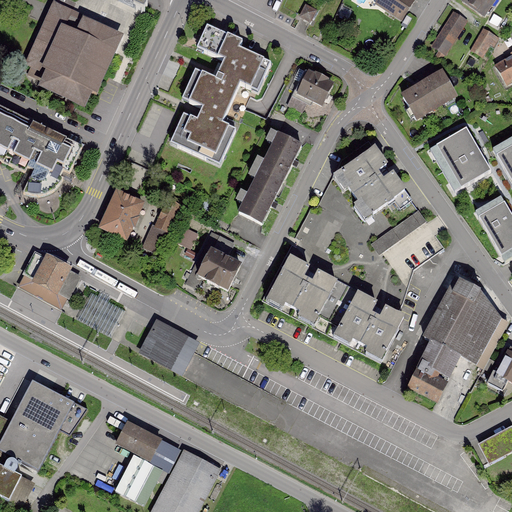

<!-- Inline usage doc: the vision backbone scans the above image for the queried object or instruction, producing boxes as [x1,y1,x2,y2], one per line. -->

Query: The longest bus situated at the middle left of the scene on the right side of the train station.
[76,260,138,298]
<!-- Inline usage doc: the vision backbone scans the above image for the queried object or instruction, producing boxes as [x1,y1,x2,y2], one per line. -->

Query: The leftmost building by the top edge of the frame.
[27,1,124,108]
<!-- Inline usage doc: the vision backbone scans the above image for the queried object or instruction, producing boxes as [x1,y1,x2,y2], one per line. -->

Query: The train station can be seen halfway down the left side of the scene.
[18,253,79,310]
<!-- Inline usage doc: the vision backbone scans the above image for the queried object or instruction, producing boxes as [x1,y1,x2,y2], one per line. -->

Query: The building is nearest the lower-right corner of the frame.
[478,423,512,468]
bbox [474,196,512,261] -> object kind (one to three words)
house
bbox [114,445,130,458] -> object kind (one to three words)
vehicle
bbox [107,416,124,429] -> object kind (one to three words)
vehicle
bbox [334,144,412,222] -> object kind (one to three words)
building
